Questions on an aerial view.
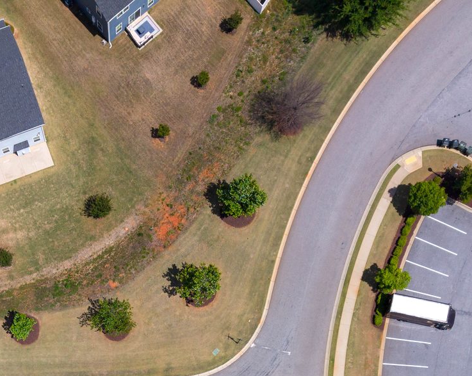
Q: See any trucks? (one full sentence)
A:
Yes, the image includes a truck.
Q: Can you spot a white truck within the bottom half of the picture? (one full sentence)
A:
Yes, you'll find a white truck within the bottom half of the picture.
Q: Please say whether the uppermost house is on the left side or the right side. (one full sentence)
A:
You can find the uppermost house on the left side of the picture.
